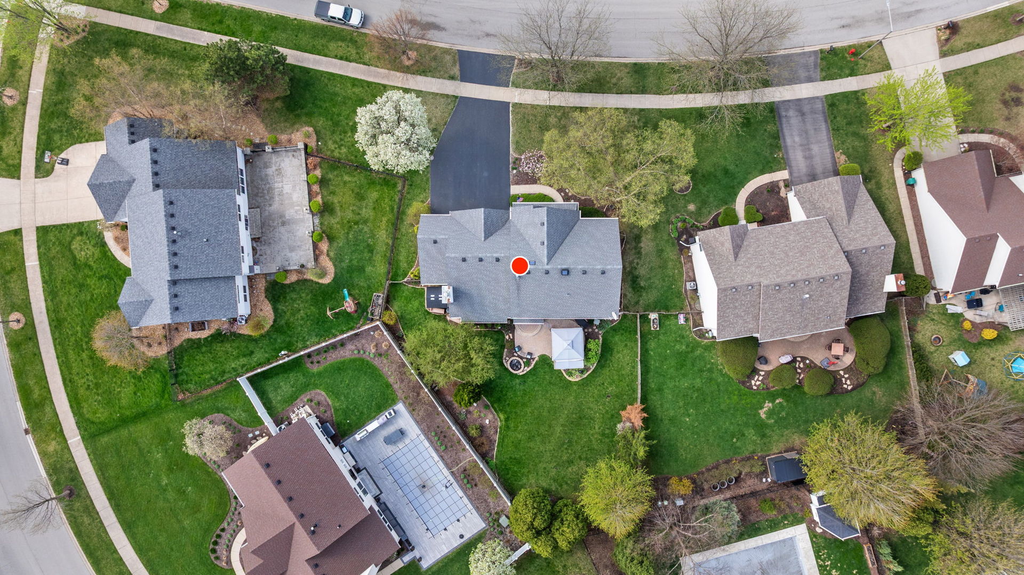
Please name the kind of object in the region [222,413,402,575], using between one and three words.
house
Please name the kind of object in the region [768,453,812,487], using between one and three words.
shed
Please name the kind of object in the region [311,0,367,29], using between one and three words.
truck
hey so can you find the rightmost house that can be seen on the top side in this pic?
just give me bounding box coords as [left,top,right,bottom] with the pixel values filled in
[910,149,1024,294]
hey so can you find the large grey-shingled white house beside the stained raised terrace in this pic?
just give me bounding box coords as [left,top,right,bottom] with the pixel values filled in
[87,118,268,328]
